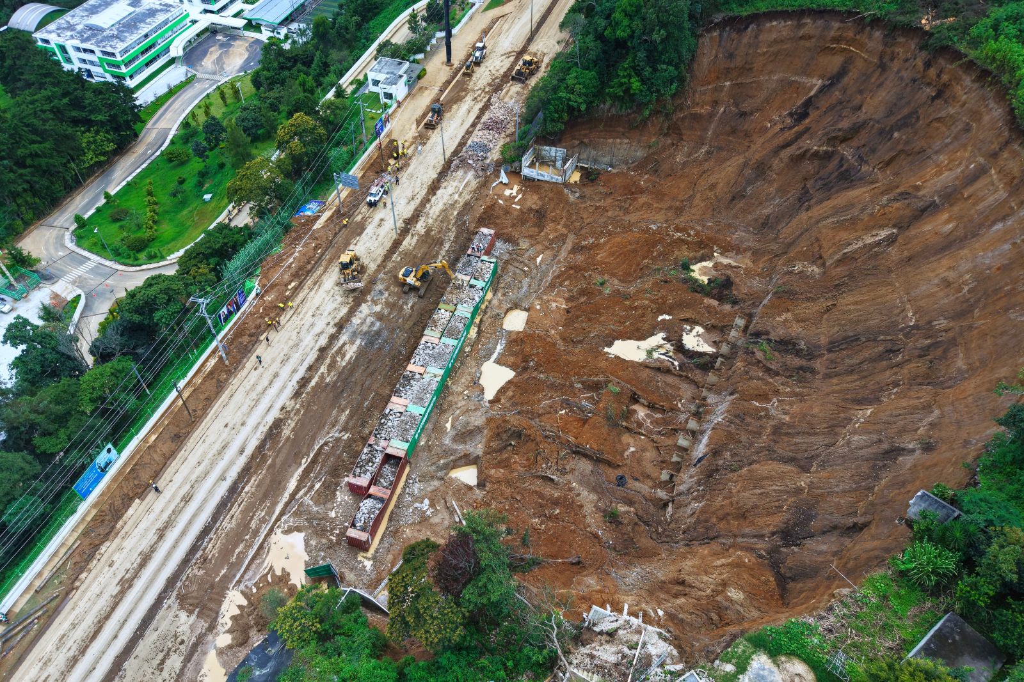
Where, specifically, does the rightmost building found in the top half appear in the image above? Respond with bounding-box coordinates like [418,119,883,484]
[355,53,441,102]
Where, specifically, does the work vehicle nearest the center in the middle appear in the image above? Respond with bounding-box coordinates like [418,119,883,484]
[390,264,453,295]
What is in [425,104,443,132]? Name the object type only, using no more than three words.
work vehicle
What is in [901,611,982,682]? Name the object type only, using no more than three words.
shed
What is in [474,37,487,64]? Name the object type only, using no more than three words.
vehicle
